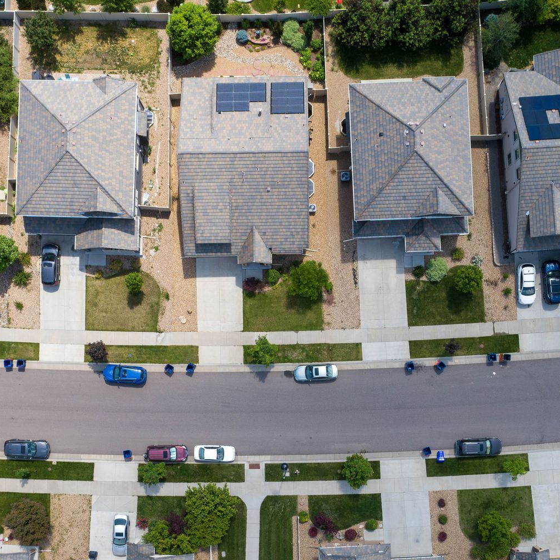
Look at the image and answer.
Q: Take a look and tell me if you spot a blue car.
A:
Yes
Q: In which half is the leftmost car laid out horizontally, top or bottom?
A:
bottom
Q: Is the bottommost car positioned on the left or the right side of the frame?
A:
left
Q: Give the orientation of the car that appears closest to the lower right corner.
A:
from left to right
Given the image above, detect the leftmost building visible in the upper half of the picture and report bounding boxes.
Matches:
[14,72,154,254]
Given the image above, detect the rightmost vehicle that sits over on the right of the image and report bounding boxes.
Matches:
[540,260,560,305]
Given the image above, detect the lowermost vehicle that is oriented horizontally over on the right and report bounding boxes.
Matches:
[453,436,501,458]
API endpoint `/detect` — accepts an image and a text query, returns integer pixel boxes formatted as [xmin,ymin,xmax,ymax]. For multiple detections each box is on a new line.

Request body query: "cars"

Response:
[540,260,560,305]
[3,439,52,461]
[453,436,501,458]
[294,363,338,384]
[39,242,62,286]
[104,363,148,384]
[514,263,537,304]
[144,444,188,465]
[194,444,236,465]
[110,512,130,557]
